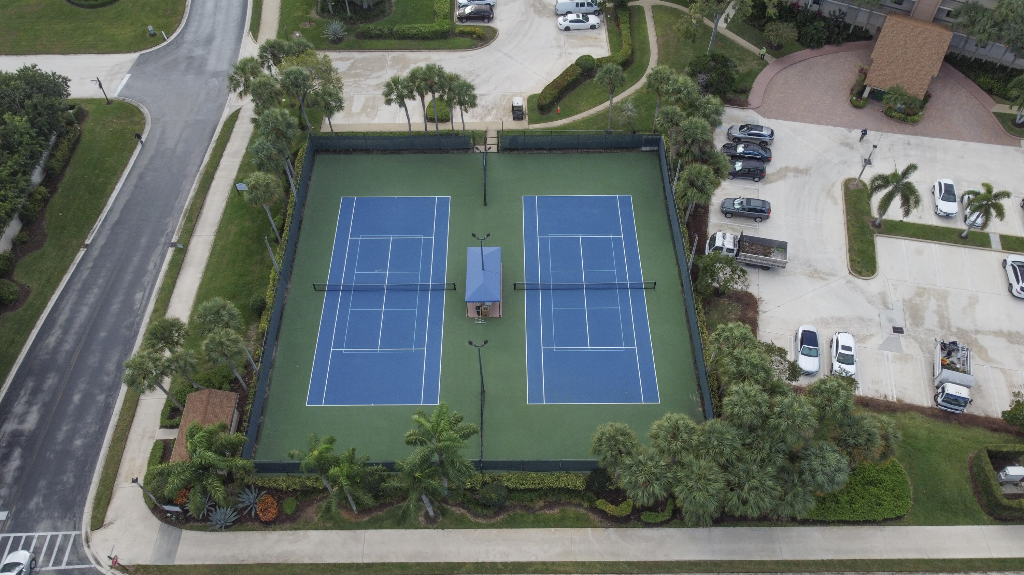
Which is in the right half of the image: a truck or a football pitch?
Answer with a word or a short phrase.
truck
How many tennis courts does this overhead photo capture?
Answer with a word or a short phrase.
2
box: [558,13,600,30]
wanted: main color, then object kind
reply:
white car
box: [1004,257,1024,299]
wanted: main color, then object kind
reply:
white car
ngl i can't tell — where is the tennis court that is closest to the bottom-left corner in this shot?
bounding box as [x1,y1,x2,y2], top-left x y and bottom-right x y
[251,152,487,477]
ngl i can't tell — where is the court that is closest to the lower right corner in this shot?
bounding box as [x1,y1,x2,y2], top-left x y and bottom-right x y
[483,151,707,476]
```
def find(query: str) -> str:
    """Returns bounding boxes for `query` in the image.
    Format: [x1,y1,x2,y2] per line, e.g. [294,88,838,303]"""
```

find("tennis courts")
[483,151,707,476]
[251,152,487,477]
